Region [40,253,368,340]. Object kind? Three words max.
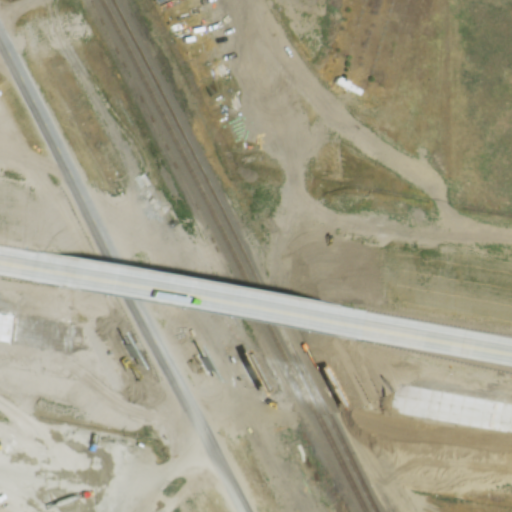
bridge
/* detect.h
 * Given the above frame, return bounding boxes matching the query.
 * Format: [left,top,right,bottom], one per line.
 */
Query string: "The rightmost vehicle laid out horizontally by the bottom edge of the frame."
[46,491,96,508]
